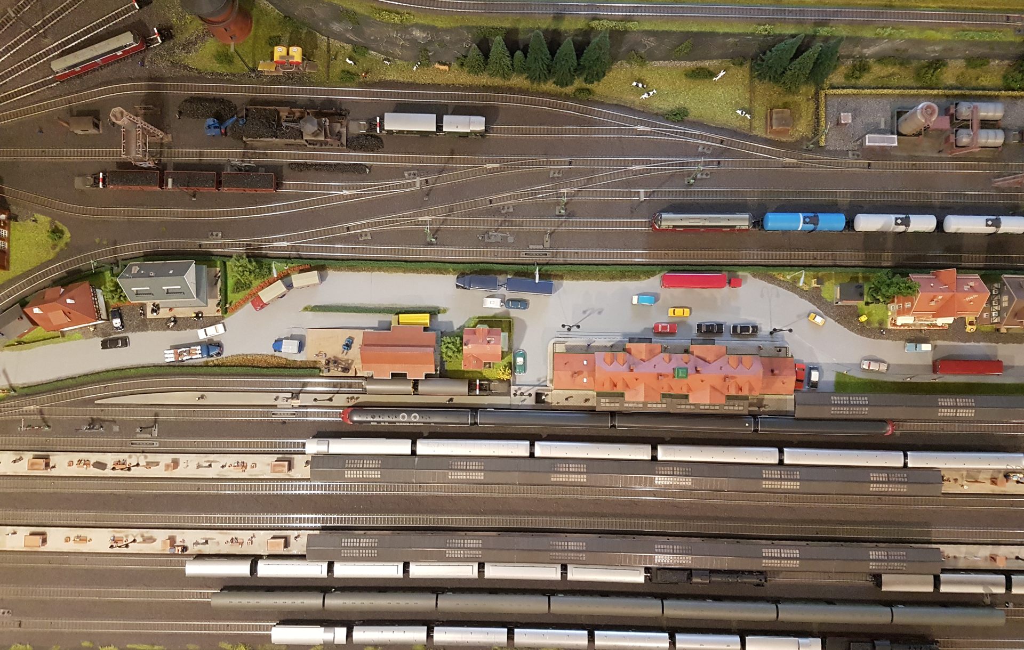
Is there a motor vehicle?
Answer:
Yes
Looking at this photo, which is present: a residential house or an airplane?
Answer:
residential house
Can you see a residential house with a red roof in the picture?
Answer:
Yes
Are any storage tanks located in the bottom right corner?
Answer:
No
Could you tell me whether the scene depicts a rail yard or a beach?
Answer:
rail yard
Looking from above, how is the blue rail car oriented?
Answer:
from side to side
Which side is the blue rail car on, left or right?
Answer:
right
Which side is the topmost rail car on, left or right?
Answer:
left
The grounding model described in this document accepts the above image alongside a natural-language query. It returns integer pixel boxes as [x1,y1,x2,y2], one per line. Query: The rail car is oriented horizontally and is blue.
[754,212,845,235]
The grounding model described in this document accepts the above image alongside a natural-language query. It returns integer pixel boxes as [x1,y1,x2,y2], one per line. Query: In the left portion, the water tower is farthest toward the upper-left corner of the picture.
[179,0,253,48]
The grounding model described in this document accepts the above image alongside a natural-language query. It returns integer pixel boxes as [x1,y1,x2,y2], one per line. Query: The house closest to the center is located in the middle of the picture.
[461,326,510,373]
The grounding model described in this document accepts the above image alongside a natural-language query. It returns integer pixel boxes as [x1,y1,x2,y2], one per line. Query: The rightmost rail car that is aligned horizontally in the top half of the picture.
[934,216,1024,238]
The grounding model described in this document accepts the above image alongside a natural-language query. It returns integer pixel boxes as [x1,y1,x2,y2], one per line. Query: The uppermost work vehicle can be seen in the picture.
[204,115,241,136]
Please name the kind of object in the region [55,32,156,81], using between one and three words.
rail car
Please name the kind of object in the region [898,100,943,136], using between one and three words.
storage tank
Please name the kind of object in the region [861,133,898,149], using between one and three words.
shed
